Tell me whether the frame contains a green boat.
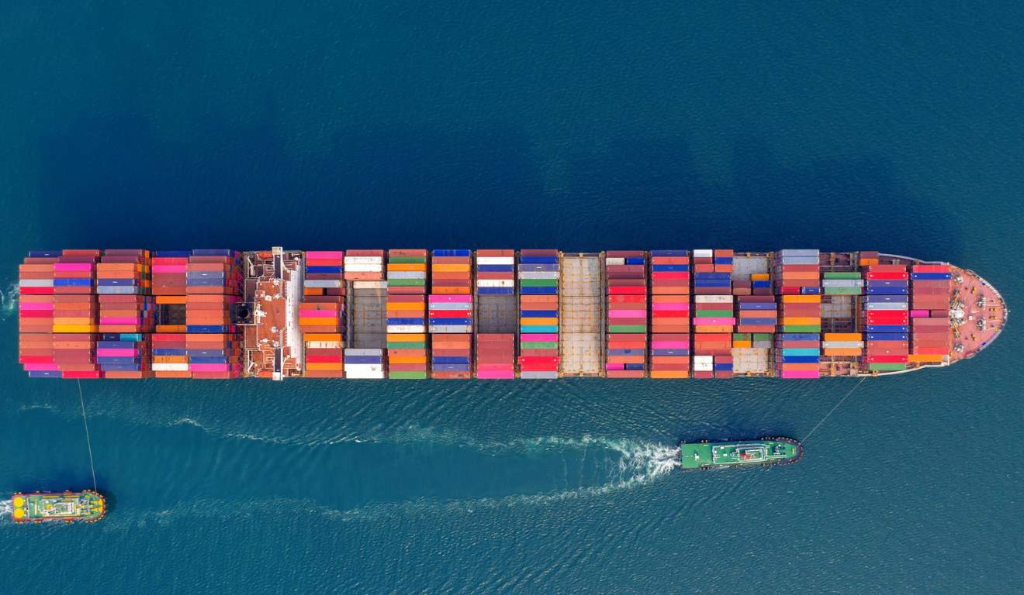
Yes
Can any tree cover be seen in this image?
No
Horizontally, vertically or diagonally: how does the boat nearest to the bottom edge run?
horizontally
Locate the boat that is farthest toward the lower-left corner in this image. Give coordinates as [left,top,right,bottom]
[11,489,109,525]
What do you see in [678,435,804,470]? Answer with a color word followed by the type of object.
green boat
